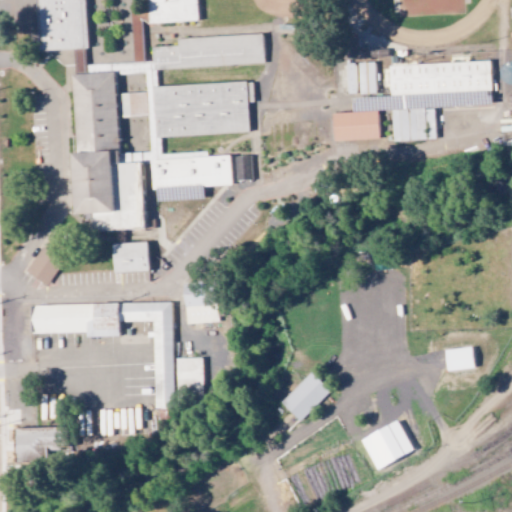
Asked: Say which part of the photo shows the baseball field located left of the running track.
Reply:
top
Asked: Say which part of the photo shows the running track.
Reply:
top right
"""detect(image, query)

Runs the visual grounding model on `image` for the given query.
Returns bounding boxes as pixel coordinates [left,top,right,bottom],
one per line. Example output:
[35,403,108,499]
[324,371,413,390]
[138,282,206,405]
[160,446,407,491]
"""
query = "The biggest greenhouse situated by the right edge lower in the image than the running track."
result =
[392,61,494,95]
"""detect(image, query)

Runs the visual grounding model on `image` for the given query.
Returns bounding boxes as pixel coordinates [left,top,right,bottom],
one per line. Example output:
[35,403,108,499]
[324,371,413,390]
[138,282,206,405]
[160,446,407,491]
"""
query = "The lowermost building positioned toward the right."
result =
[362,422,414,472]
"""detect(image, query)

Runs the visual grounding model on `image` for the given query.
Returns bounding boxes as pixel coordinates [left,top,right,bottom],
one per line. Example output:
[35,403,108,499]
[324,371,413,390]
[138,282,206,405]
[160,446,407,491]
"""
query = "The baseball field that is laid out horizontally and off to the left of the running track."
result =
[206,0,294,26]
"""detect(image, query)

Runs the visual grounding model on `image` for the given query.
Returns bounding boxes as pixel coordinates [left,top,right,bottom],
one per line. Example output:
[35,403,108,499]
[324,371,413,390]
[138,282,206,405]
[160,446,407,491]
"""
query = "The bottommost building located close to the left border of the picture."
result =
[16,428,60,464]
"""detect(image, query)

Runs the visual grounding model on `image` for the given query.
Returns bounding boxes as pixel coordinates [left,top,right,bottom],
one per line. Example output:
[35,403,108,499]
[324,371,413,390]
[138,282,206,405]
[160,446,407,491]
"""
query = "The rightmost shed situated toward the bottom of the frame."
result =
[446,346,476,372]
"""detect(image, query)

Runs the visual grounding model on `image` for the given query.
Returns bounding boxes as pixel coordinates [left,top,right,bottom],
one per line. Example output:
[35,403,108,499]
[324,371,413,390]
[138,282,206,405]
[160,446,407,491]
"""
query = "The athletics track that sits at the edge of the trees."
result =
[360,0,501,46]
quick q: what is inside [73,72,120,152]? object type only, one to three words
building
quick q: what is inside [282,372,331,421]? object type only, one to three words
house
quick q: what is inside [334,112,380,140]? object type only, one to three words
barn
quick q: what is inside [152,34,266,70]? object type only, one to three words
building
